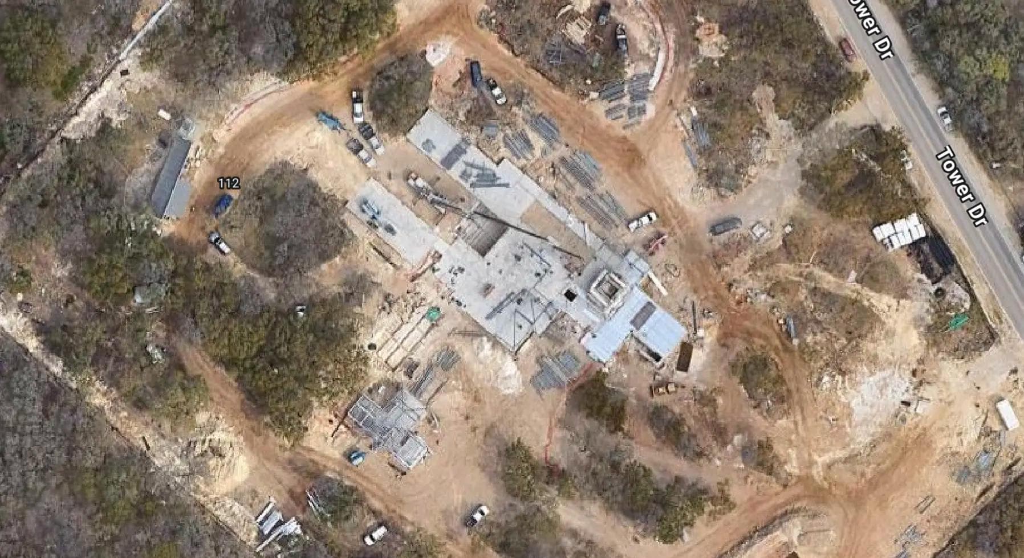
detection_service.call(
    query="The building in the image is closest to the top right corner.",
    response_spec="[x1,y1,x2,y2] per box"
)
[346,109,687,365]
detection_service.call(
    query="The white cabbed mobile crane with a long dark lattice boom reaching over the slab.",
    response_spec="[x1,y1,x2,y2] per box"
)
[408,171,581,258]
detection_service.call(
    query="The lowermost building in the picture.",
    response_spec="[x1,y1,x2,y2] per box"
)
[348,389,428,468]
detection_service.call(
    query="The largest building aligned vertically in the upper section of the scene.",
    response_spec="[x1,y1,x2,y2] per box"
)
[150,138,193,218]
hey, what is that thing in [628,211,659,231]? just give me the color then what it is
white vehicle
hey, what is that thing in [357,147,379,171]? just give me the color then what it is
white truck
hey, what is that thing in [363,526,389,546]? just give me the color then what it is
white car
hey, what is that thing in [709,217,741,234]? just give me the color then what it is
gray car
